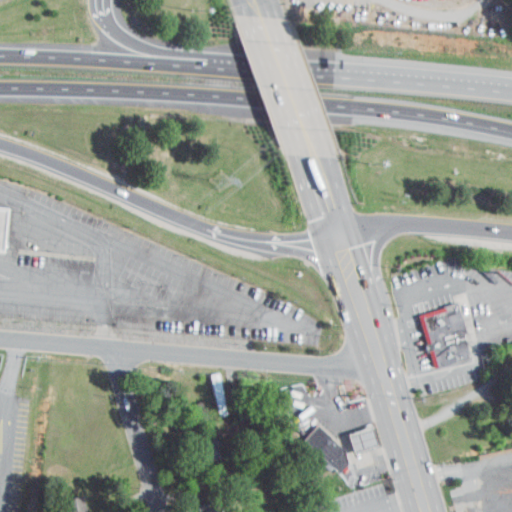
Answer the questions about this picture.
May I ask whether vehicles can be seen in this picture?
Yes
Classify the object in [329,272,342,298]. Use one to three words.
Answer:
vehicle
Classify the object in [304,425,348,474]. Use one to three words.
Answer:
building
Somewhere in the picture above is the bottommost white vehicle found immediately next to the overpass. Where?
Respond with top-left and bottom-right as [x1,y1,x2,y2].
[307,152,326,191]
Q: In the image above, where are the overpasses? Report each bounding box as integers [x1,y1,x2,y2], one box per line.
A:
[234,16,338,158]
